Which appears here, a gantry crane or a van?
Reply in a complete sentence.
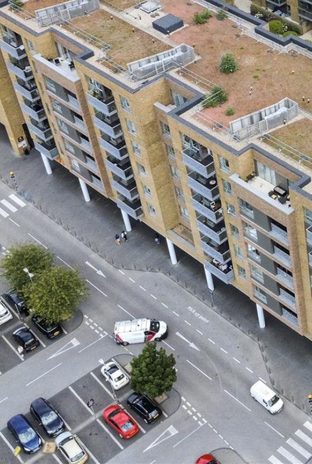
This aerial view contains a van.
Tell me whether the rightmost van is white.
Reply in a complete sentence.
Yes, the rightmost van is white.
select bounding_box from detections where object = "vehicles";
[53,427,91,464]
[99,401,142,443]
[3,410,46,455]
[8,322,42,354]
[245,375,289,419]
[0,297,14,326]
[27,311,65,343]
[3,287,34,317]
[125,390,163,426]
[113,315,169,347]
[26,393,67,437]
[98,358,134,392]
